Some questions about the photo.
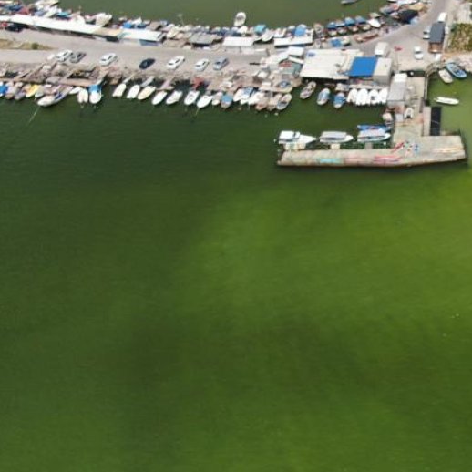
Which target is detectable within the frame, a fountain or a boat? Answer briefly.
boat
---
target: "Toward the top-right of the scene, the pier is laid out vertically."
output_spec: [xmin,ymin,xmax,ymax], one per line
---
[429,103,442,139]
